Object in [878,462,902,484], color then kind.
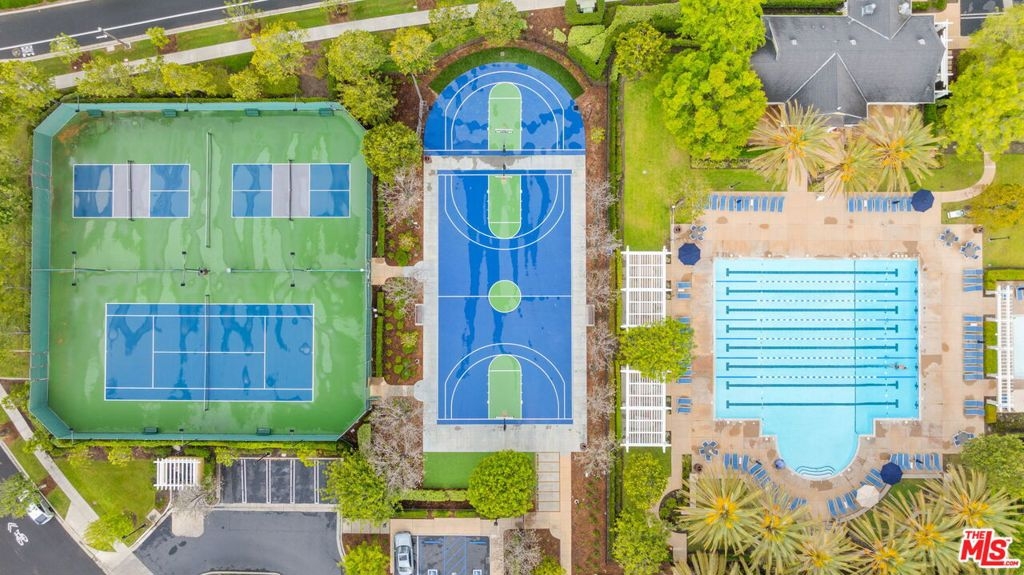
blue umbrella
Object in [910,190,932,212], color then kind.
blue umbrella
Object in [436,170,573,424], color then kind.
blue basketball court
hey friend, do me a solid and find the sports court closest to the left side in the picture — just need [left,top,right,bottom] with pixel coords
[73,164,189,217]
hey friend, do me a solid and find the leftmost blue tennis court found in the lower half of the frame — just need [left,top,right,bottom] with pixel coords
[105,304,313,402]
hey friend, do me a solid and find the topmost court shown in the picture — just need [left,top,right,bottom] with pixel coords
[424,62,584,154]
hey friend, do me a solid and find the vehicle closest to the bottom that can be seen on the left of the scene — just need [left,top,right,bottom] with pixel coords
[393,529,413,574]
